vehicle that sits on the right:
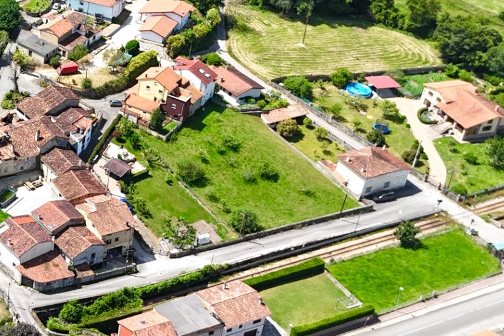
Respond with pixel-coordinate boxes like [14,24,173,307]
[372,192,395,205]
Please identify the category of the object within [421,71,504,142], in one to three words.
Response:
house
